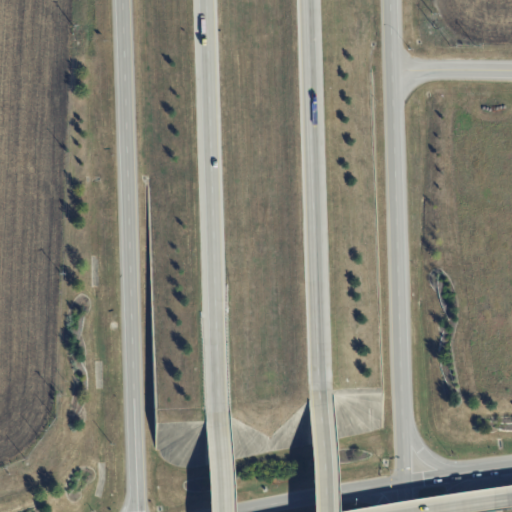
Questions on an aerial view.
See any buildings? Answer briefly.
No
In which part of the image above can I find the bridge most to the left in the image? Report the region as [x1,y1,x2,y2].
[206,412,236,512]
